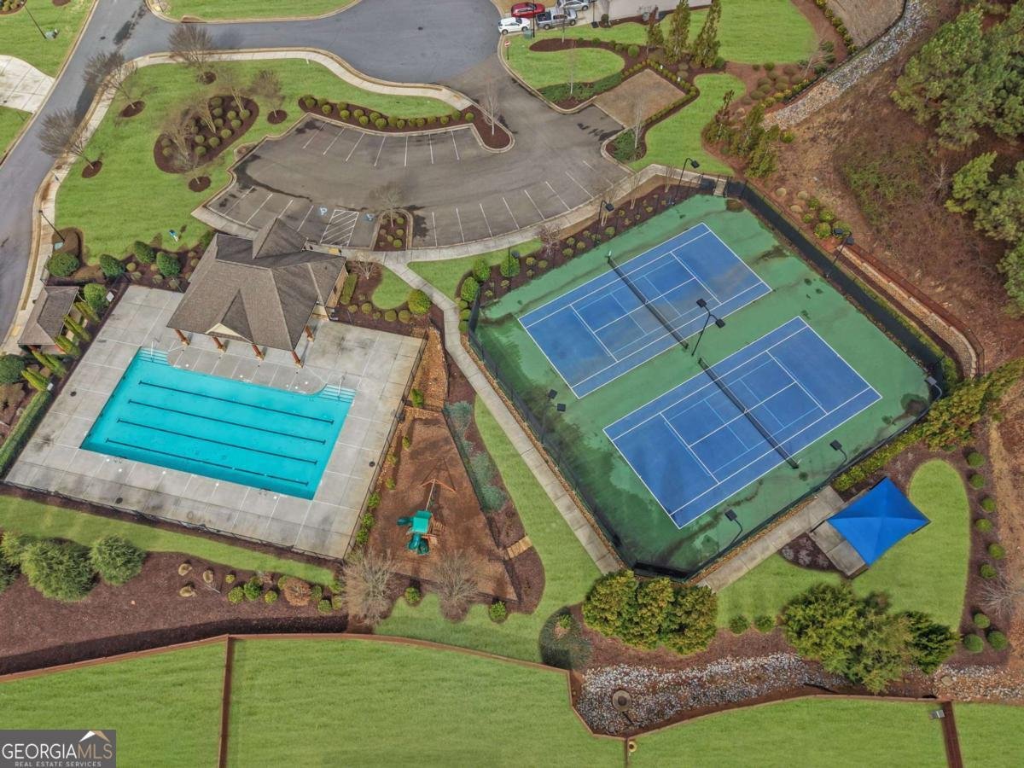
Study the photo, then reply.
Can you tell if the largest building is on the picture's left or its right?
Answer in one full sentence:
You can find the largest building on the left side of the picture.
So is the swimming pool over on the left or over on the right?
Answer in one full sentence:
You can find the swimming pool on the left side of the picture.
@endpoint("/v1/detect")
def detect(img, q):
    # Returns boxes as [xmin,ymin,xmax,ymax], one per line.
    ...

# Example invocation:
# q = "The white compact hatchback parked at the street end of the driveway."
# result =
[498,13,530,31]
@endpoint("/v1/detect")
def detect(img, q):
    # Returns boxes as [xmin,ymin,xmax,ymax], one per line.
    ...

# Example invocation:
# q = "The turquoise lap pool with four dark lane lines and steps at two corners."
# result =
[77,344,358,502]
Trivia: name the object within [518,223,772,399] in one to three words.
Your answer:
tennis court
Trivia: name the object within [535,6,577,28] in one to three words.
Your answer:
truck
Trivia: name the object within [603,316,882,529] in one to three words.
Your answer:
tennis court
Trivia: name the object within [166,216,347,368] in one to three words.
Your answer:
building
